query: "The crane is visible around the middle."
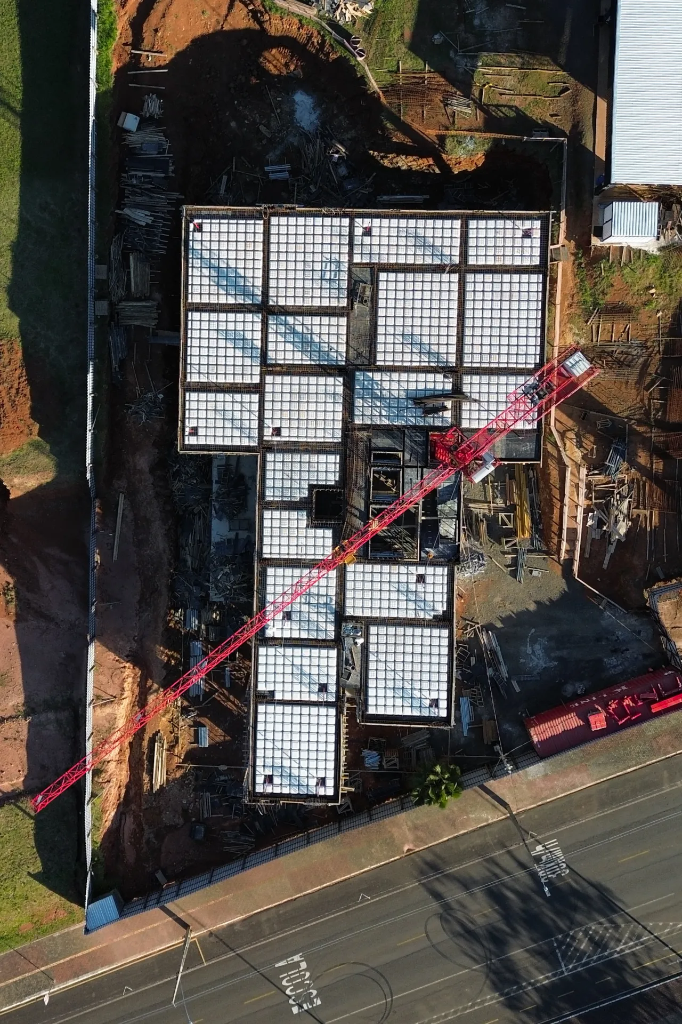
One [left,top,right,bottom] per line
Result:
[29,337,603,810]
